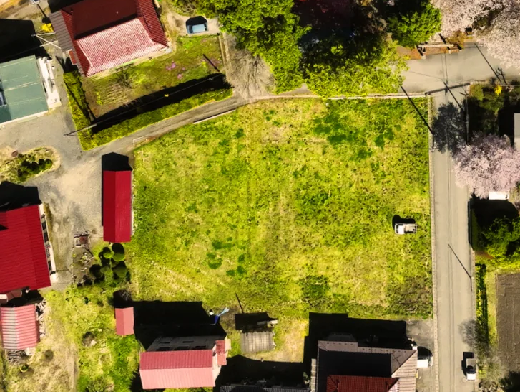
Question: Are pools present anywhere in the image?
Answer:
No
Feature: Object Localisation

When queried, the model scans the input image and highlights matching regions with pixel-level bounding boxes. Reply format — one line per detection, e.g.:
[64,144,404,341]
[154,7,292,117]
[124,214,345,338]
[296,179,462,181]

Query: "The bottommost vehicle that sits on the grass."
[394,221,416,233]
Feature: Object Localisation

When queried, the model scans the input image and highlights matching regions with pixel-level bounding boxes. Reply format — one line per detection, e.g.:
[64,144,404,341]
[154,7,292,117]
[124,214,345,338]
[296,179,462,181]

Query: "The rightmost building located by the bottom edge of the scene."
[311,336,417,392]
